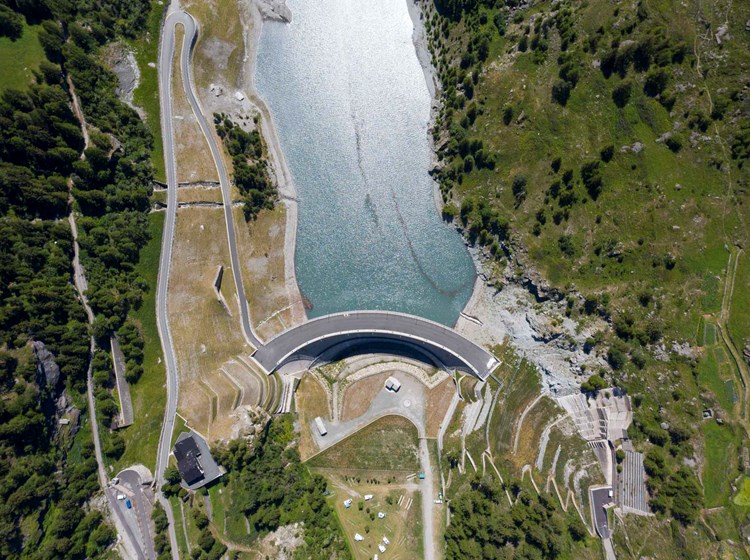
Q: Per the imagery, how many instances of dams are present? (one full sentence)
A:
The count comes to 1 dam.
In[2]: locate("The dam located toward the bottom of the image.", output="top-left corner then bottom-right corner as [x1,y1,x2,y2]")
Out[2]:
[253,309,502,389]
